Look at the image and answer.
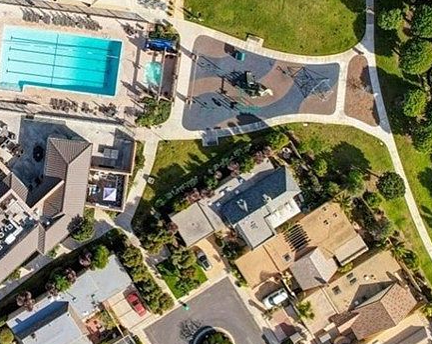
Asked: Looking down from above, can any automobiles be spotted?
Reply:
Yes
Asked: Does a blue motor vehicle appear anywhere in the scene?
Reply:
No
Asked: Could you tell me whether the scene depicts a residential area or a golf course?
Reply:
residential area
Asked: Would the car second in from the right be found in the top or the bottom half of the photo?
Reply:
bottom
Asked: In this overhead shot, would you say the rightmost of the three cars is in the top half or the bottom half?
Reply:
bottom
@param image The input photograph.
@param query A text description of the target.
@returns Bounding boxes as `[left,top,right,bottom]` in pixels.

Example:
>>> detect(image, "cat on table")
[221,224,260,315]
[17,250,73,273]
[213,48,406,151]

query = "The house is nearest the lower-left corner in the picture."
[6,294,91,344]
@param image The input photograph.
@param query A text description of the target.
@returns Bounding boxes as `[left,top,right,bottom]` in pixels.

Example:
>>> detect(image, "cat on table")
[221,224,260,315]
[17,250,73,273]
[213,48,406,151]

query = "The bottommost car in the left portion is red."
[126,291,146,317]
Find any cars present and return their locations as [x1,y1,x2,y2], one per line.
[261,287,288,307]
[126,291,146,317]
[193,246,214,272]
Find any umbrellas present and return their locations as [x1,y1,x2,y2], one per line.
[103,187,115,201]
[32,147,44,160]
